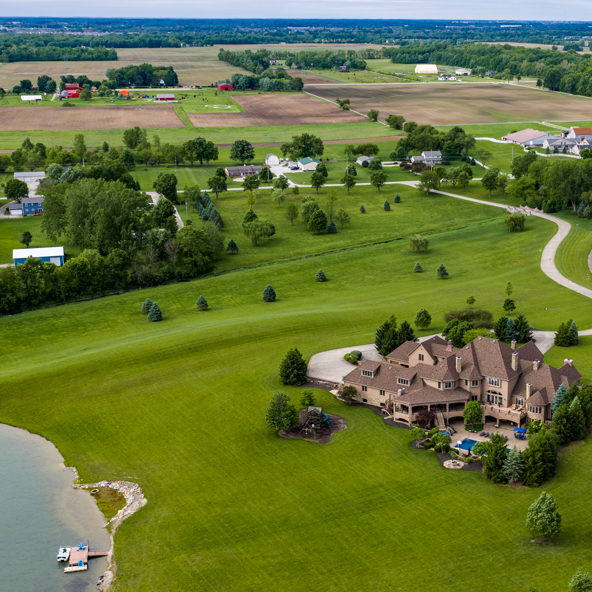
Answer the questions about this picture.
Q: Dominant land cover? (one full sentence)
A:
For the most part, this view shows grass.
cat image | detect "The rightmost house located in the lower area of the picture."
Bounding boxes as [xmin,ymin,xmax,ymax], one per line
[343,336,583,433]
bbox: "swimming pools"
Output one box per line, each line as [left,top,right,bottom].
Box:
[453,437,478,452]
